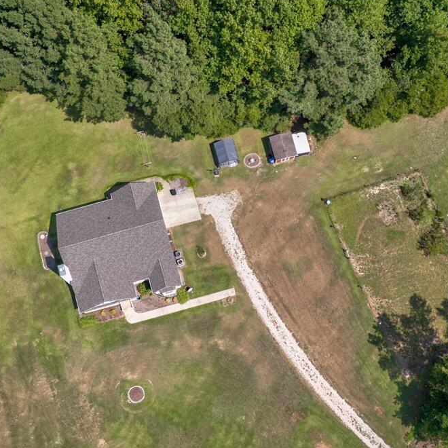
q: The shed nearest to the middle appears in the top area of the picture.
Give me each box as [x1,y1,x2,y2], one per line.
[214,138,239,169]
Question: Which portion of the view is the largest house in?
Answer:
left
